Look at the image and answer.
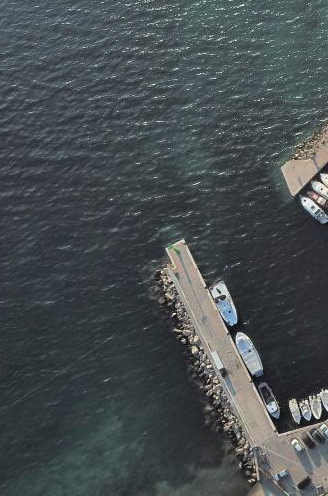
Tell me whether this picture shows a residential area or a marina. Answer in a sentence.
The picture captures a marina.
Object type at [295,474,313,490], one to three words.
car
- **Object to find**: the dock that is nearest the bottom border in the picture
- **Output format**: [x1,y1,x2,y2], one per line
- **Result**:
[166,240,279,451]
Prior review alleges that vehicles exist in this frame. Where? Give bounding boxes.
[271,466,291,481]
[320,422,328,439]
[295,474,313,490]
[302,431,316,450]
[291,436,303,453]
[310,426,324,445]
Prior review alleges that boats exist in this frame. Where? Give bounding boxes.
[317,168,328,187]
[208,282,235,327]
[301,399,311,423]
[298,195,328,226]
[289,398,300,426]
[307,179,328,202]
[322,388,328,410]
[237,333,264,379]
[306,188,328,212]
[310,395,321,420]
[256,382,278,418]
